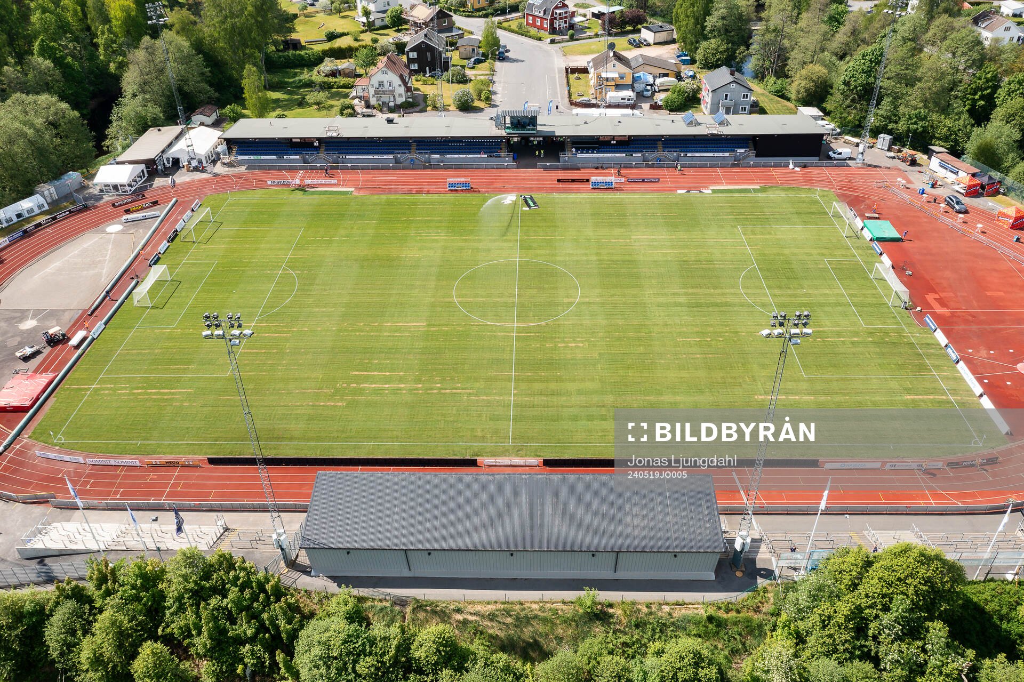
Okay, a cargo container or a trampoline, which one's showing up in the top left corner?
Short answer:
cargo container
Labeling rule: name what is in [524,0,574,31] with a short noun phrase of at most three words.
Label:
house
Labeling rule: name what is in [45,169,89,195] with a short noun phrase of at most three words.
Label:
shipping container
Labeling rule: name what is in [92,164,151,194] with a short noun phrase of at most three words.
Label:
tent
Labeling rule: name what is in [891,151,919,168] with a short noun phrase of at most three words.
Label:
work vehicle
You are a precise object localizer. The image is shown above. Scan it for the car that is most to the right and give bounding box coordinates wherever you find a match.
[941,195,973,212]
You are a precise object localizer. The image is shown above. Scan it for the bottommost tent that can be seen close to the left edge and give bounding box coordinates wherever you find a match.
[0,188,48,229]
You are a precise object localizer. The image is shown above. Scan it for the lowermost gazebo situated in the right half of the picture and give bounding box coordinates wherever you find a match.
[992,202,1024,229]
